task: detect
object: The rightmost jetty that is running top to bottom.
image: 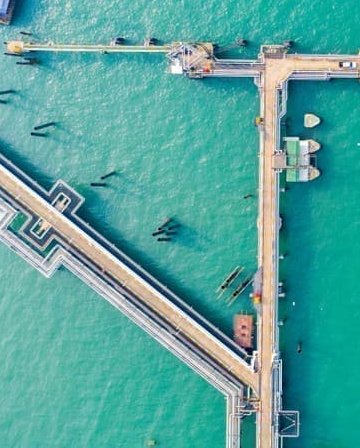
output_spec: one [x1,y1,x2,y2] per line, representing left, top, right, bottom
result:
[252,82,304,448]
